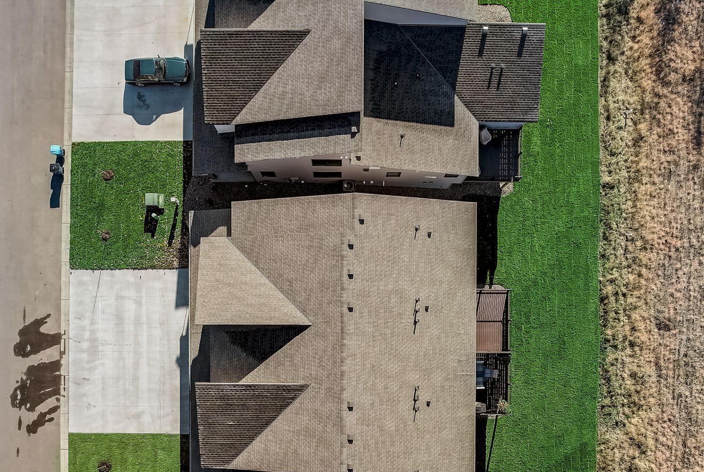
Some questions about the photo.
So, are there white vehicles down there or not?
No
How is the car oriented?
horizontally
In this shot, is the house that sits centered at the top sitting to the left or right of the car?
on its right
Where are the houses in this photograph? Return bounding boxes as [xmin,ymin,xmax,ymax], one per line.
[192,0,546,192]
[189,192,515,472]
